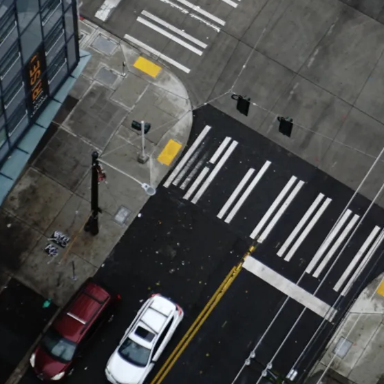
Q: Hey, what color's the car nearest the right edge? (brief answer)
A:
white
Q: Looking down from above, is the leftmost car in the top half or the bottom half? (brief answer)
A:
bottom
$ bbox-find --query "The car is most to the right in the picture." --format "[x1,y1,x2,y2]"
[100,300,186,384]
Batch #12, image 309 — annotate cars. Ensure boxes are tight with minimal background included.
[35,284,122,384]
[100,300,186,384]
